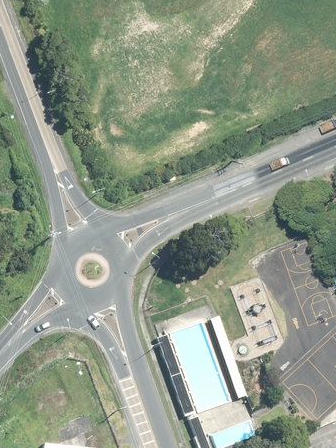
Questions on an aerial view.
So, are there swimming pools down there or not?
Yes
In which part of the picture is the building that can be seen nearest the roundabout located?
bottom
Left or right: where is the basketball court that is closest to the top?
right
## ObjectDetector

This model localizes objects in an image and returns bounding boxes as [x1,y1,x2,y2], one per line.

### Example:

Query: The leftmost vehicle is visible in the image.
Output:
[34,320,50,332]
